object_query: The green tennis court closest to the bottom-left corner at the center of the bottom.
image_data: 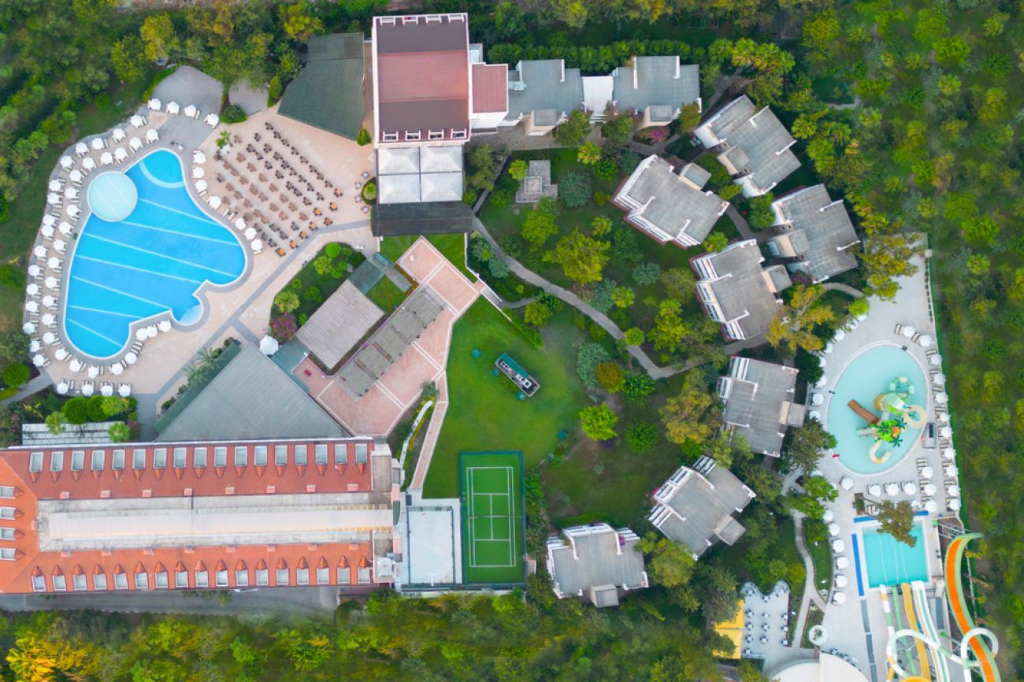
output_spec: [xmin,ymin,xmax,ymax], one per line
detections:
[459,451,526,589]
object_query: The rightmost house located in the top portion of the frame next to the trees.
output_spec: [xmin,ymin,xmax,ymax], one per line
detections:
[768,184,863,287]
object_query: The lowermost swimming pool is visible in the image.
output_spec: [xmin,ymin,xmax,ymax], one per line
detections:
[856,515,935,594]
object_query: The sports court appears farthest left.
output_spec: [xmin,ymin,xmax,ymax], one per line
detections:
[406,506,456,587]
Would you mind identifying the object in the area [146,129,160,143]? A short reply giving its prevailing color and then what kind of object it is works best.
white umbrella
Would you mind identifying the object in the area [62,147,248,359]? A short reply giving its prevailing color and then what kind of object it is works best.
blue swimming pool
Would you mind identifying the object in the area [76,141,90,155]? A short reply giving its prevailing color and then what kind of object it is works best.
white umbrella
